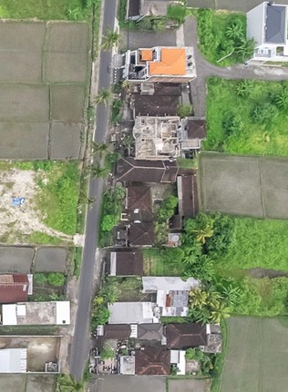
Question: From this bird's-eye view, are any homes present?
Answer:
Yes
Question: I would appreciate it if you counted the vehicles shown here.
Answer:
0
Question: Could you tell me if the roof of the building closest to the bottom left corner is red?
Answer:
No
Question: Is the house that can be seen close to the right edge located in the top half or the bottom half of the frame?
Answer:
top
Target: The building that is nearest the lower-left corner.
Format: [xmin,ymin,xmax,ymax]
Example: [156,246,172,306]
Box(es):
[0,349,26,373]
